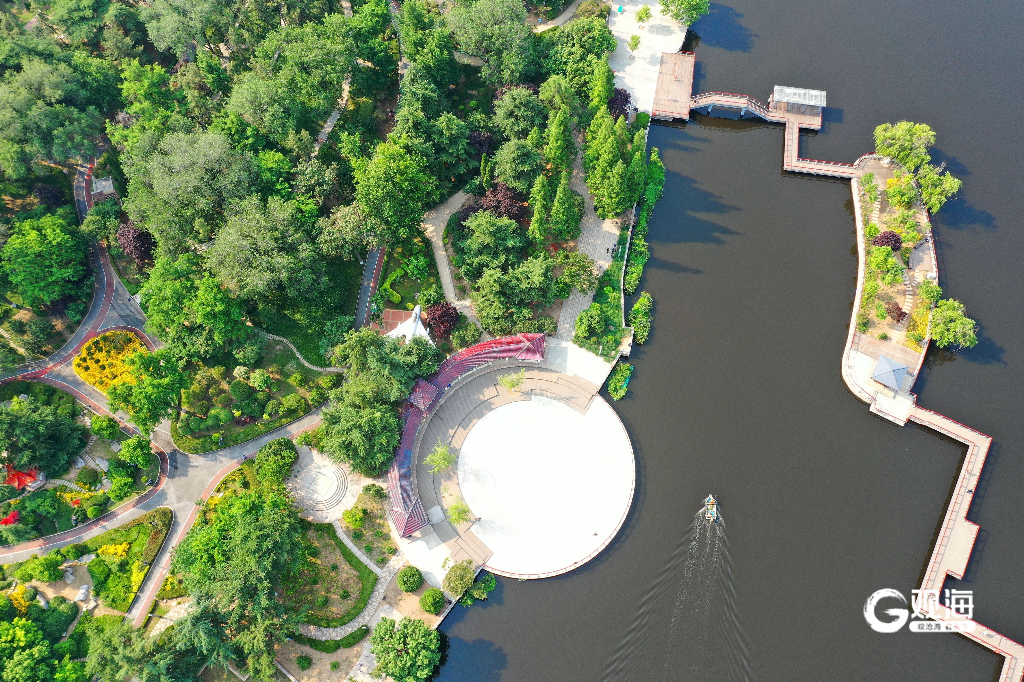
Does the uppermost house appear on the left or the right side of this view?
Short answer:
left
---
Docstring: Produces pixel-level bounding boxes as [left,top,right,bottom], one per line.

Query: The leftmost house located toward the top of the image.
[90,175,122,210]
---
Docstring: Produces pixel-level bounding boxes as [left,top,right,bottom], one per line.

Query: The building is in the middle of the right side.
[867,352,910,394]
